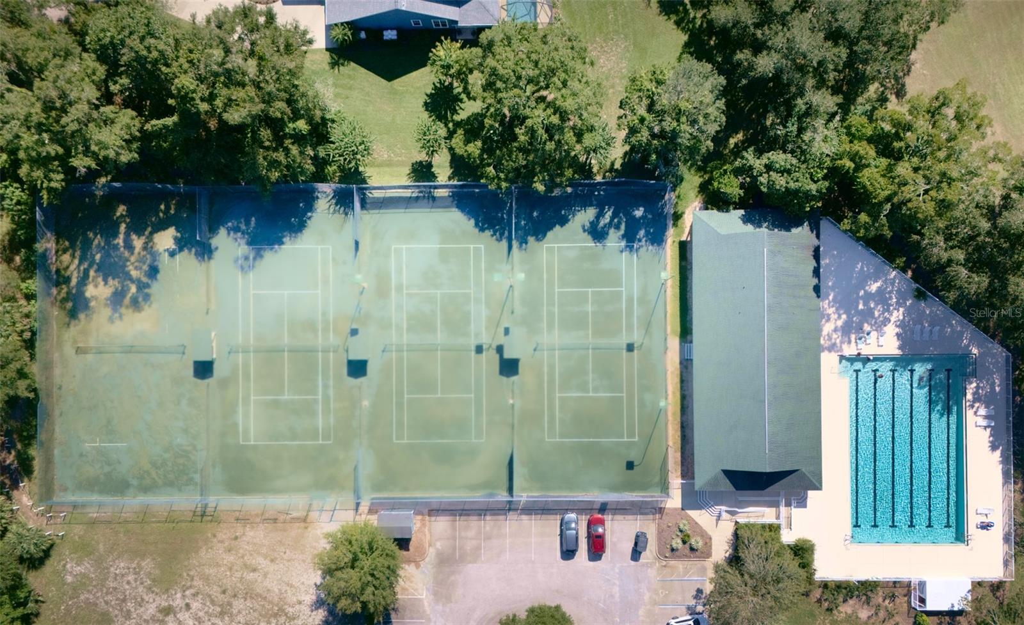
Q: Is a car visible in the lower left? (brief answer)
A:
No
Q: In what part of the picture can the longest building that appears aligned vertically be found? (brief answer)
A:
right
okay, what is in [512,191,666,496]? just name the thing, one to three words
tennis court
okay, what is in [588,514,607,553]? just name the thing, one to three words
car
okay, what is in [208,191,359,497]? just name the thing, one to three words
tennis court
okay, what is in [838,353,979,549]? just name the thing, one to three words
swimming pool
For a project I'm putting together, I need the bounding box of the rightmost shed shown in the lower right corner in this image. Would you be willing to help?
[899,573,971,610]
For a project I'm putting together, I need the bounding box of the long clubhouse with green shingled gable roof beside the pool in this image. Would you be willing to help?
[691,210,822,491]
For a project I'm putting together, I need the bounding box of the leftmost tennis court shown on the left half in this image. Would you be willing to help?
[53,191,208,497]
